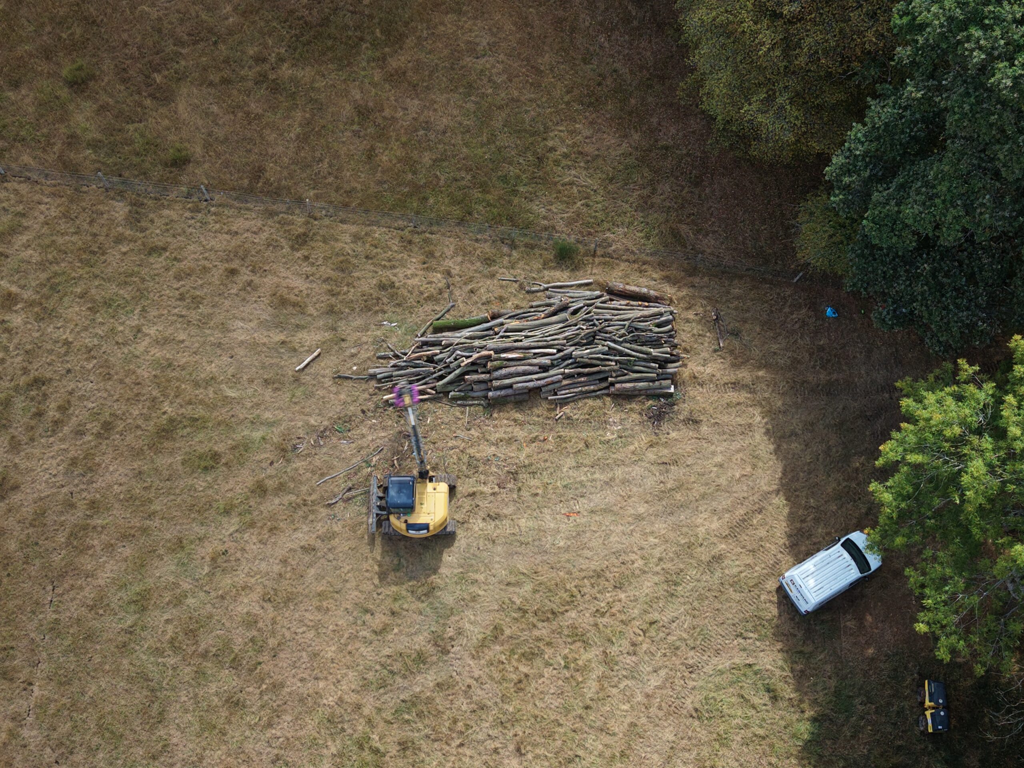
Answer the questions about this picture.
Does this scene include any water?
No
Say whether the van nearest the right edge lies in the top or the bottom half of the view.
bottom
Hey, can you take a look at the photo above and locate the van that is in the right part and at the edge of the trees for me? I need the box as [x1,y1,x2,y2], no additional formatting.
[777,529,882,616]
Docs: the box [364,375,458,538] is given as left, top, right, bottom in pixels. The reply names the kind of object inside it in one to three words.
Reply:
work vehicle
